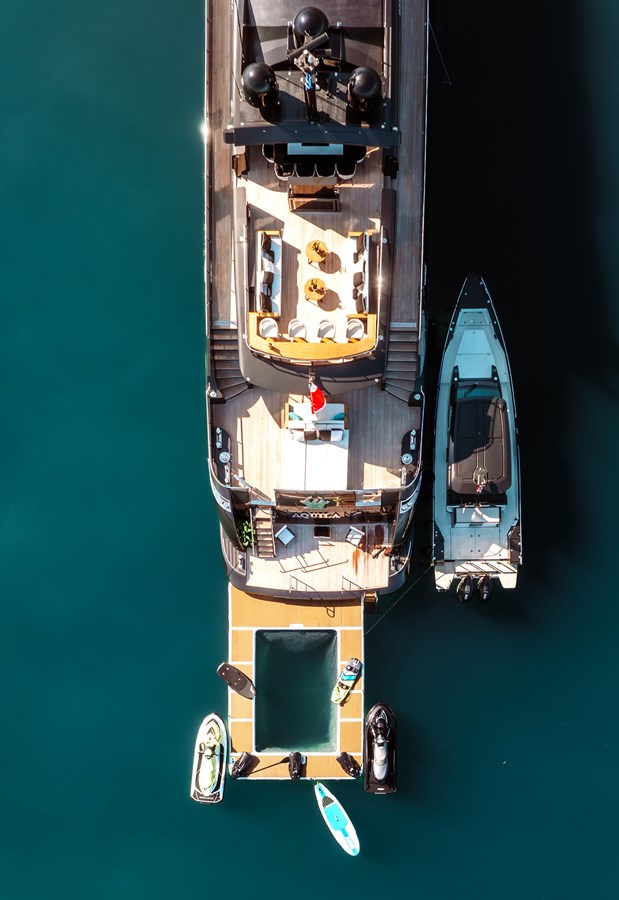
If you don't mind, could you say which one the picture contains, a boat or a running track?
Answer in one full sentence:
This aerial view contains a boat.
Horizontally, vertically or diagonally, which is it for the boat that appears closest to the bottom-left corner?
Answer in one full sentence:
Seen from above, the boat that appears closest to the bottom-left corner lies vertically.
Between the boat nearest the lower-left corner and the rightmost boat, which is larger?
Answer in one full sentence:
The larger object is the rightmost boat, with the boat nearest the lower-left corner being the smaller of the pair.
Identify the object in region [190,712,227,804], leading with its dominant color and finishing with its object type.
white boat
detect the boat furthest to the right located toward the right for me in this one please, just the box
[432,273,522,602]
